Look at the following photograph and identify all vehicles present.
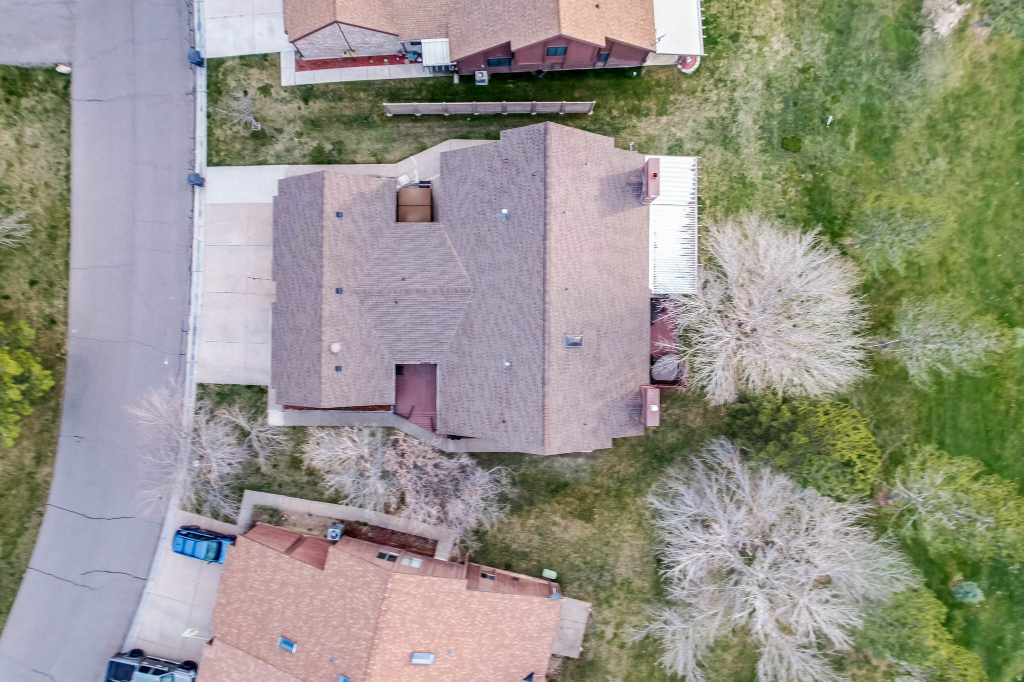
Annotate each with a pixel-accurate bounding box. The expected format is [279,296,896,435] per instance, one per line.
[168,527,236,570]
[105,651,197,682]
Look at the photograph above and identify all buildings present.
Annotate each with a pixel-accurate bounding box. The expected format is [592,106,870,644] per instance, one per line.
[270,121,660,455]
[196,522,564,682]
[283,0,656,75]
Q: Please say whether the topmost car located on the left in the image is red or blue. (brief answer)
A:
blue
